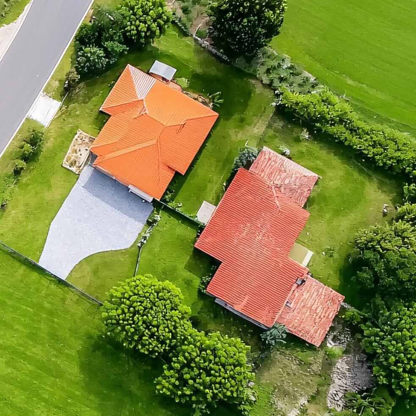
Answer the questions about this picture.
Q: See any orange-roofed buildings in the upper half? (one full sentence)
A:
Yes, an orange-roofed building can be seen in the upper half.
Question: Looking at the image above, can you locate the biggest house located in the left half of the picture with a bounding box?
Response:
[89,64,219,201]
